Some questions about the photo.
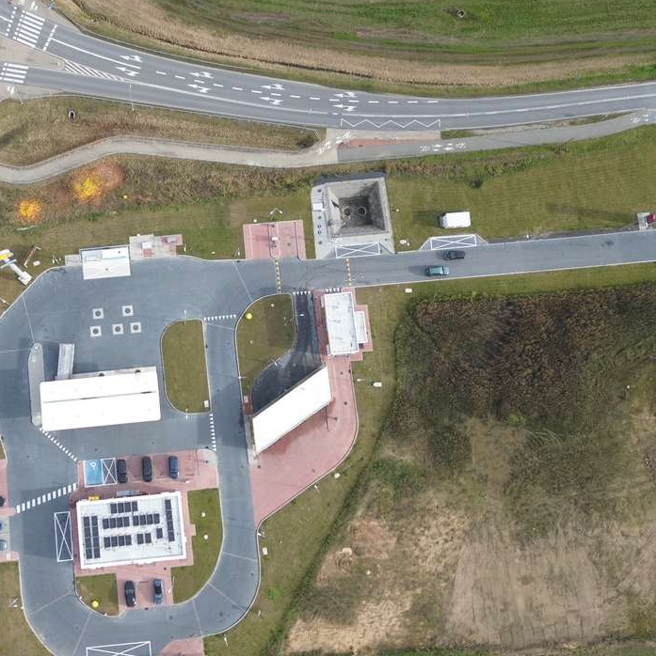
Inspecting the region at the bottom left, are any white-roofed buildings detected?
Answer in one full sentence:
Yes, looking at the bottom left, one can make out a white-roofed building.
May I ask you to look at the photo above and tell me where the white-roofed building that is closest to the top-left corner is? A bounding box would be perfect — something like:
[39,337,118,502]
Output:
[79,243,132,282]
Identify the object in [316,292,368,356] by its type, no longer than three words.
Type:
building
